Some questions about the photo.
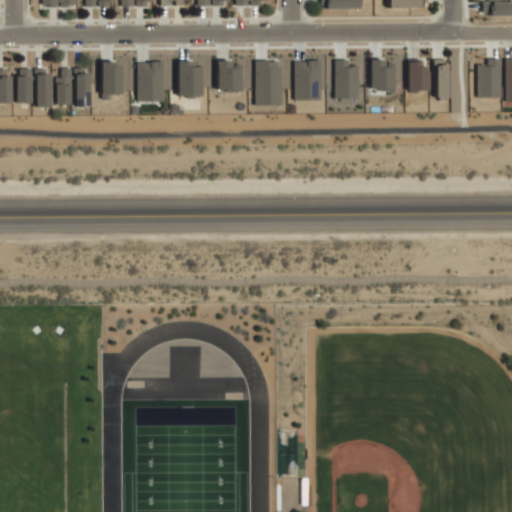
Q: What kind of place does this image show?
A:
sports ground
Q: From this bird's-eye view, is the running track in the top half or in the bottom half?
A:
bottom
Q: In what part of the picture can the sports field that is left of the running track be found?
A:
bottom left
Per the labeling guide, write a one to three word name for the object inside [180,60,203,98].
house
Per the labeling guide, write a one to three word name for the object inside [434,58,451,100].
house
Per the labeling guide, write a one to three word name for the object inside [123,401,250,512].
sports field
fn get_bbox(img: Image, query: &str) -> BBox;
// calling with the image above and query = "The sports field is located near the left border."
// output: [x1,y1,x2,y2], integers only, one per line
[0,305,102,512]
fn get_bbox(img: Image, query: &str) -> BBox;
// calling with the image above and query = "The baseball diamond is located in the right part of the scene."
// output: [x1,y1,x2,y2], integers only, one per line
[306,327,512,512]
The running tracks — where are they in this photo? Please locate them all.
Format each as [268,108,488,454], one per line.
[102,320,269,512]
